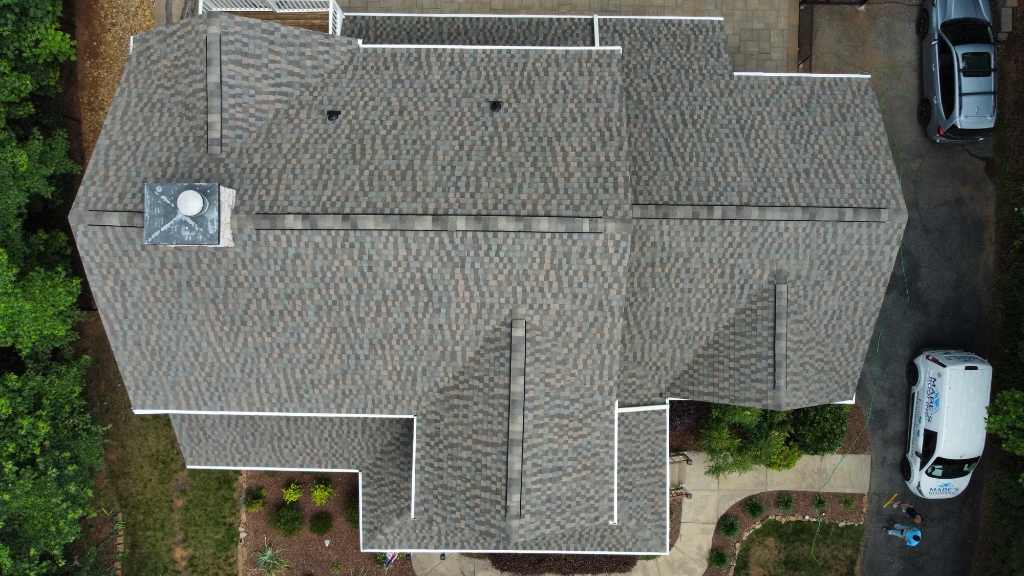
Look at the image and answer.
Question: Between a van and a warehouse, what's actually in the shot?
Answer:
van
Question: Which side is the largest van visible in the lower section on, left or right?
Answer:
right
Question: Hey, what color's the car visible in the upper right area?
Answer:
black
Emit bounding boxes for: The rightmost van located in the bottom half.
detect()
[902,352,996,502]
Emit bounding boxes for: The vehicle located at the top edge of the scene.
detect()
[916,0,1001,145]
